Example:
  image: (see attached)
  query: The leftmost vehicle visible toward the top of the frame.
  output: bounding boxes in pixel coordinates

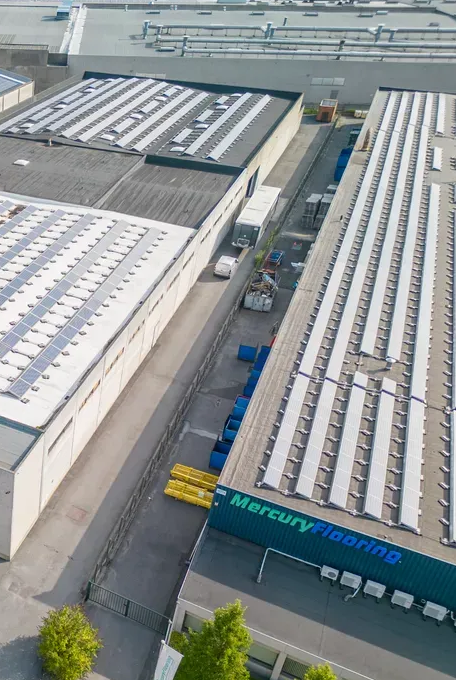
[212,252,244,277]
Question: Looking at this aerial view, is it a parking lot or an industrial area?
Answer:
industrial area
